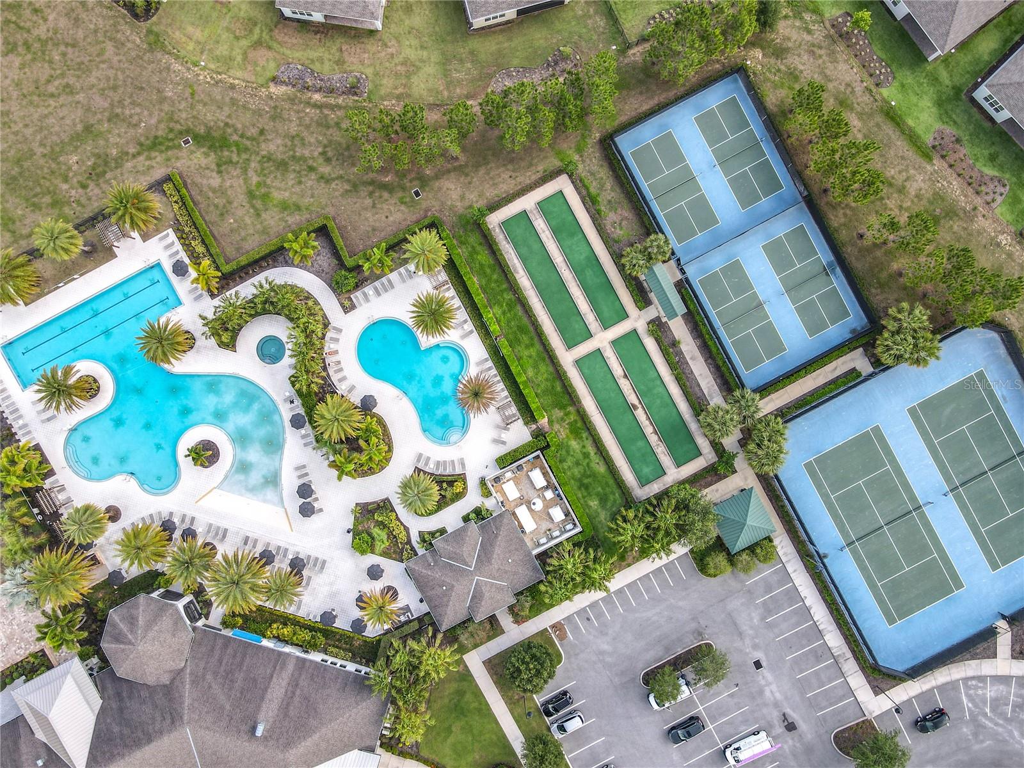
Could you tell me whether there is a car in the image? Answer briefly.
Yes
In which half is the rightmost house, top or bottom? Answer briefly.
top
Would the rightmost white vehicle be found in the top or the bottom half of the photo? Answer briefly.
bottom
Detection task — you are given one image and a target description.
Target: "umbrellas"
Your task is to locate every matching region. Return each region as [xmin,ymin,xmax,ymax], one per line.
[351,617,367,633]
[173,260,191,277]
[290,412,306,428]
[353,593,369,610]
[298,501,316,518]
[297,482,314,499]
[320,609,336,626]
[182,526,200,542]
[367,563,384,580]
[260,549,276,565]
[360,394,376,411]
[290,555,306,571]
[161,518,180,535]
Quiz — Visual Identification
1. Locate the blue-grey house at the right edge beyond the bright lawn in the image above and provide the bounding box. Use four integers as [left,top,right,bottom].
[972,49,1024,153]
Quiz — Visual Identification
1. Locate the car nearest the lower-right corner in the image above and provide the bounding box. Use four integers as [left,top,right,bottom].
[913,708,950,731]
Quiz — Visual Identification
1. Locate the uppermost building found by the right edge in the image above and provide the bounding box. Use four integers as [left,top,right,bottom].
[887,0,1013,62]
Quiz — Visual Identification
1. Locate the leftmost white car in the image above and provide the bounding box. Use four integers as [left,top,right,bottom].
[548,709,585,736]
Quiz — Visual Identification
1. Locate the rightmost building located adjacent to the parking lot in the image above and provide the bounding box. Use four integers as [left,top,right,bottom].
[711,486,776,555]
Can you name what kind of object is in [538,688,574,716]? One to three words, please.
car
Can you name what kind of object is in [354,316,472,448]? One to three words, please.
swimming pool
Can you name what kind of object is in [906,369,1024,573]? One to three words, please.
tennis court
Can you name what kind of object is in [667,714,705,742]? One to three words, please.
car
